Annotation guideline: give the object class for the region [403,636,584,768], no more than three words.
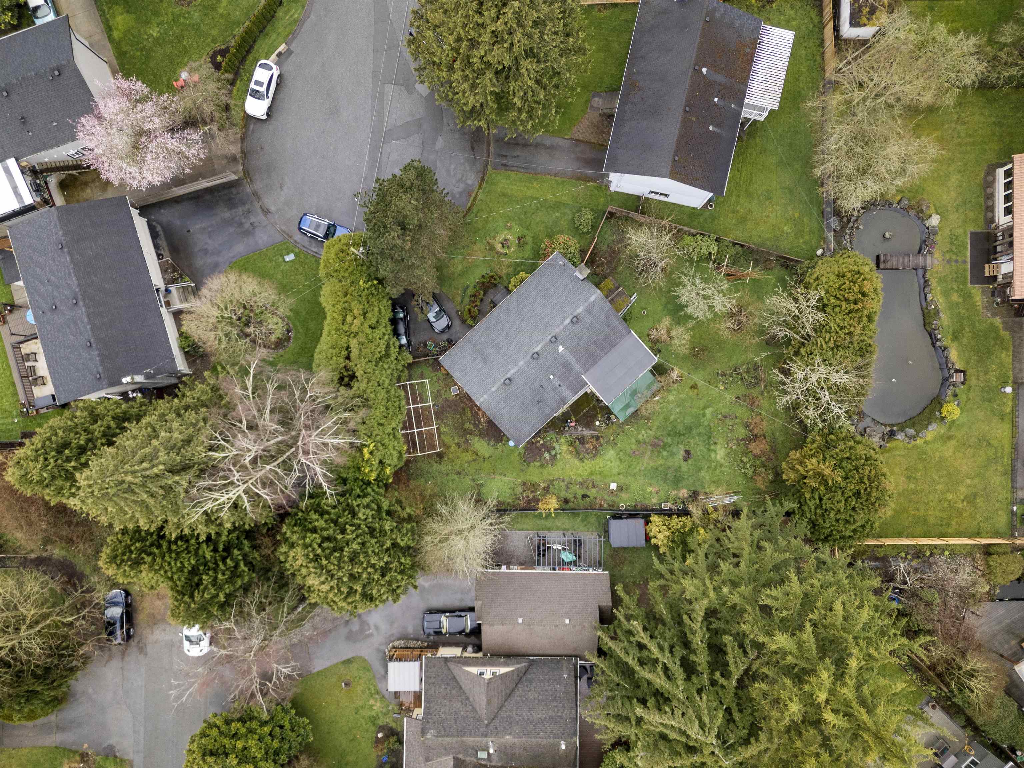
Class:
house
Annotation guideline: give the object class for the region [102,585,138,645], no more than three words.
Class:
car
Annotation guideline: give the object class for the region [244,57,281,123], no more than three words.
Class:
car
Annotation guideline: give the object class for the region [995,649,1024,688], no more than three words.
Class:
shed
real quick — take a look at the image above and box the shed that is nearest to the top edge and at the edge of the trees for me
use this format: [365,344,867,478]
[836,0,888,44]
